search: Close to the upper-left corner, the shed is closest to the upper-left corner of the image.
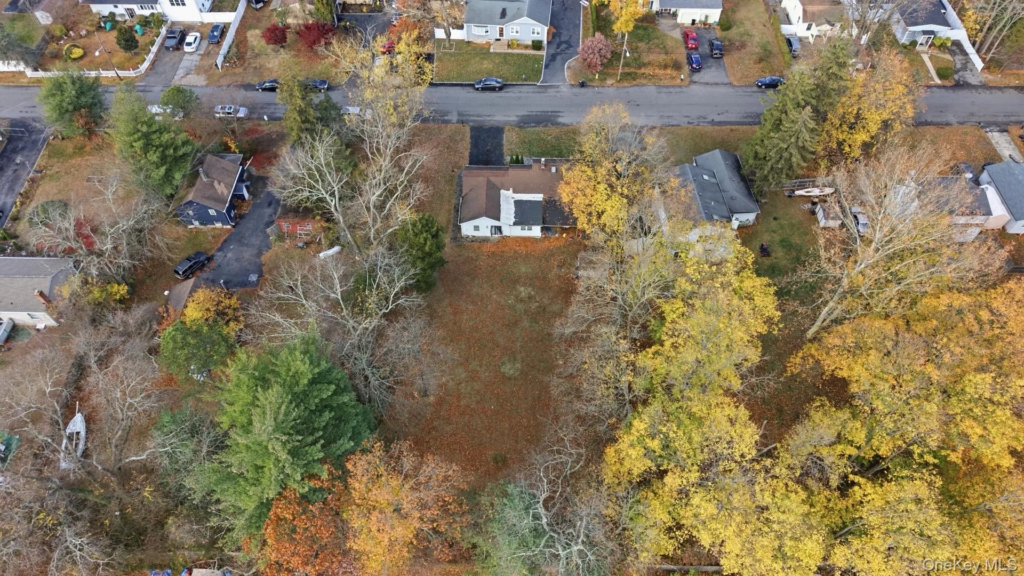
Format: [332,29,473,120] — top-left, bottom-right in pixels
[28,4,56,26]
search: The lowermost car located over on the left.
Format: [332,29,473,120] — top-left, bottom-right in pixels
[169,255,212,282]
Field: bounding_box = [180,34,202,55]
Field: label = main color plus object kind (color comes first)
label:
white car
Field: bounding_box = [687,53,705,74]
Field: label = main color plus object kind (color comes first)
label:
blue car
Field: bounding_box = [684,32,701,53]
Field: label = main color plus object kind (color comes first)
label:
red car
